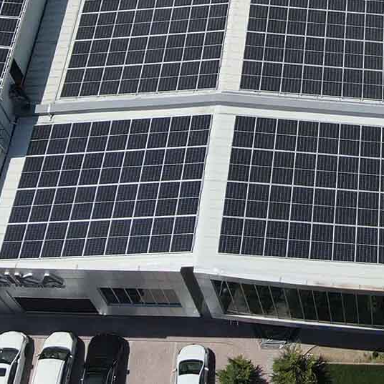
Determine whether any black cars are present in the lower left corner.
Yes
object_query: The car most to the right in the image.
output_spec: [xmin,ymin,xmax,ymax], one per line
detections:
[169,345,210,384]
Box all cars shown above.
[78,334,127,384]
[169,345,210,384]
[31,333,81,384]
[0,331,30,384]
